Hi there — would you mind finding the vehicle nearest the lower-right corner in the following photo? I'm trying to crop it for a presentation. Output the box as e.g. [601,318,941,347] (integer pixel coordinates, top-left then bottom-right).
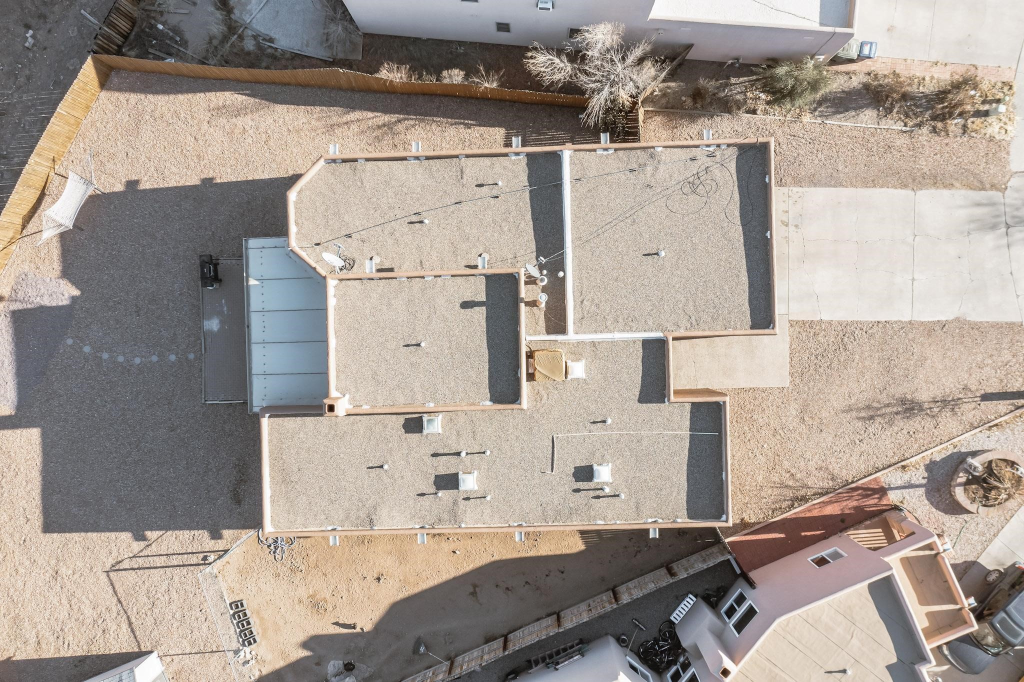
[940,559,1024,670]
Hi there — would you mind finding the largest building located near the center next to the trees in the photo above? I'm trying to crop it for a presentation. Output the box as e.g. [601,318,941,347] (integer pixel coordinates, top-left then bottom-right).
[261,128,777,546]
